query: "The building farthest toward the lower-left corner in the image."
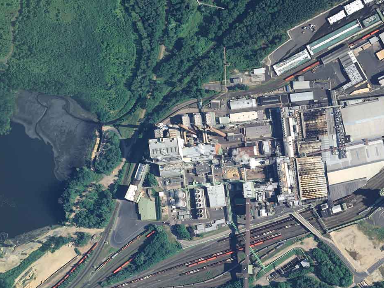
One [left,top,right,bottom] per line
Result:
[138,197,159,221]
